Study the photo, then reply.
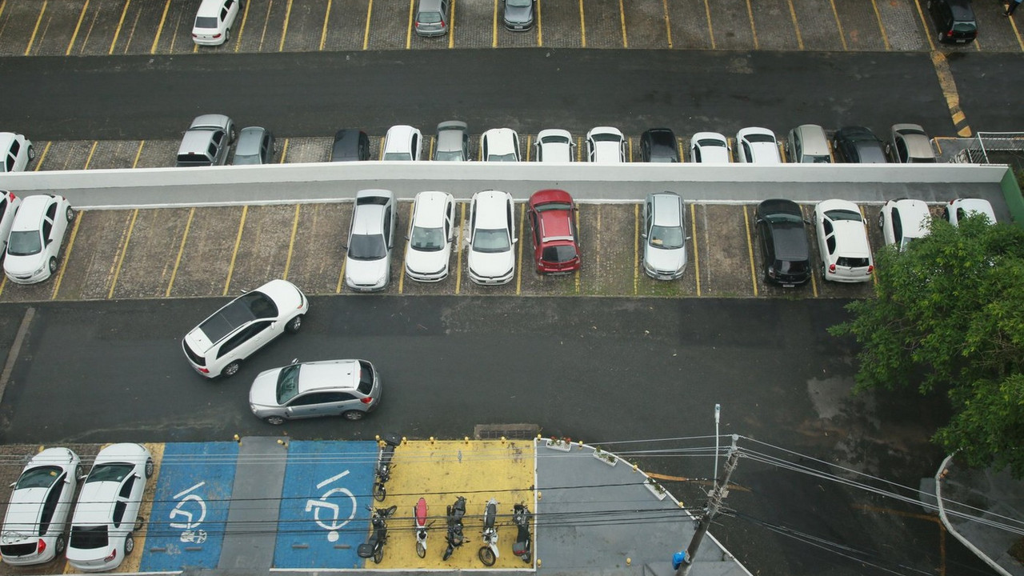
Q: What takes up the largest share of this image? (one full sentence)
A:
What you mostly see from above here is paved ground.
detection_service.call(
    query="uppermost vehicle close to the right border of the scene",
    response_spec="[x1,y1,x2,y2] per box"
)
[926,0,979,42]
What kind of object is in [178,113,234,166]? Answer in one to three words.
vehicle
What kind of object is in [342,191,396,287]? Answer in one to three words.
car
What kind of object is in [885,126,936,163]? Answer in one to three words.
car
